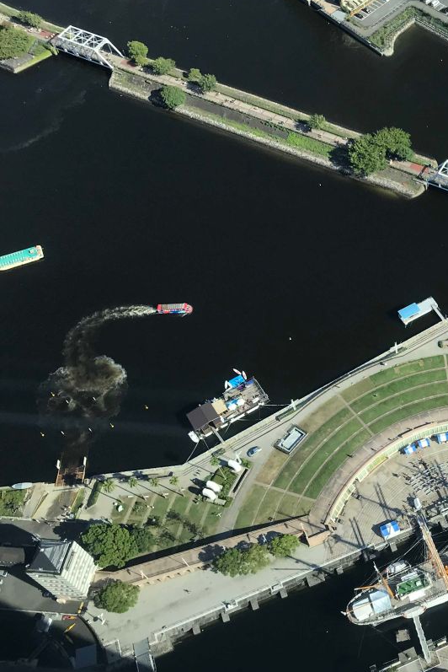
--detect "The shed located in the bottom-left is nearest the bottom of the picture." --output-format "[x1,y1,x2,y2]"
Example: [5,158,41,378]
[76,645,101,671]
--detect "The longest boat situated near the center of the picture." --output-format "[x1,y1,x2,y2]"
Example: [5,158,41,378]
[186,374,269,438]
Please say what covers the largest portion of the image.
water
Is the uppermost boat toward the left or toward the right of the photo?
left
